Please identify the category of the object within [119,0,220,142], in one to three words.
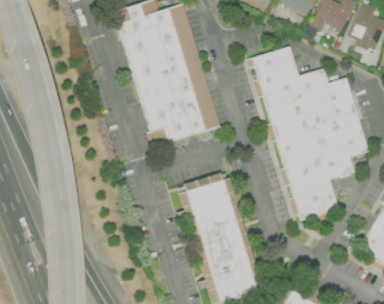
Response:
building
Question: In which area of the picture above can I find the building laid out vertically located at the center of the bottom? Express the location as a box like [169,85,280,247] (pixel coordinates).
[180,174,258,304]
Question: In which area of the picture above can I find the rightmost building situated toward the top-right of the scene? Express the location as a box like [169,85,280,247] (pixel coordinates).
[348,4,384,50]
